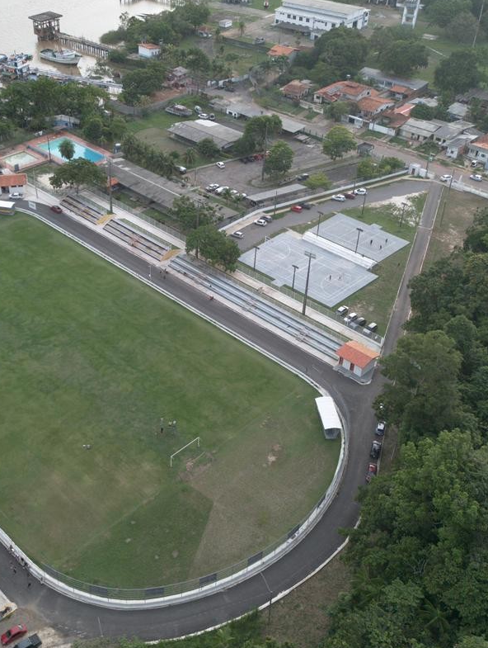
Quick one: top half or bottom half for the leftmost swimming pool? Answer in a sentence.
The leftmost swimming pool is in the top half of the image.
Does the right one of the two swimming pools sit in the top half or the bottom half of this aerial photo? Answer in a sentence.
The right one of the two swimming pools sits in the top half of the picture.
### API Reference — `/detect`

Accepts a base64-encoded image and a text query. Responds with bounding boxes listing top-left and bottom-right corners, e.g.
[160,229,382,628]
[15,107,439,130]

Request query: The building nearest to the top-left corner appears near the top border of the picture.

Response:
[26,11,65,43]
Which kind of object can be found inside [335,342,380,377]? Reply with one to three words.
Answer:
shed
